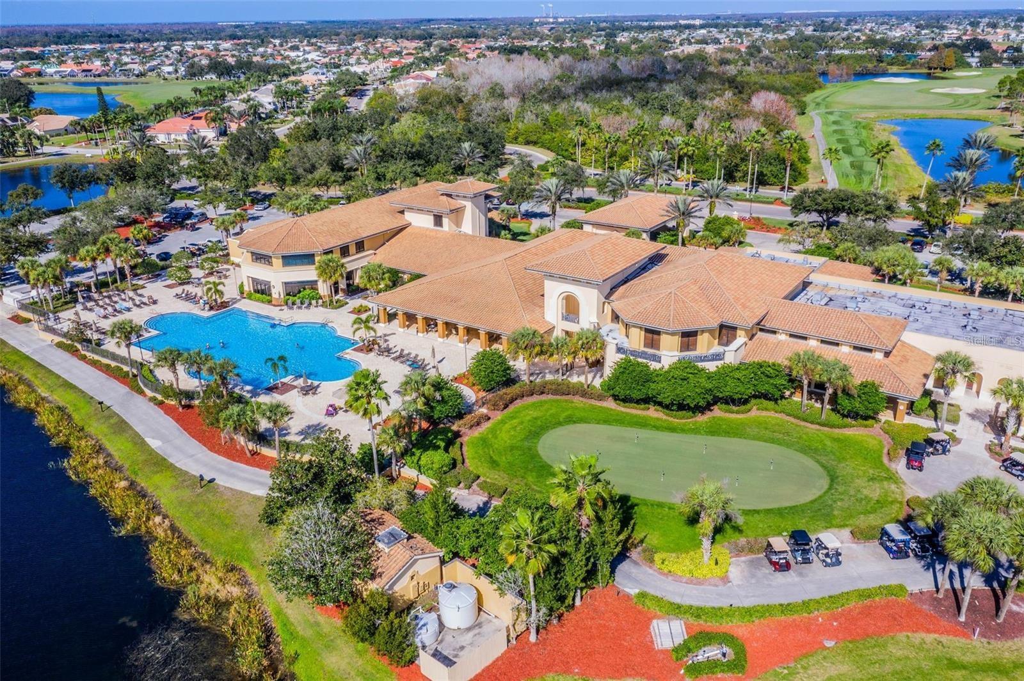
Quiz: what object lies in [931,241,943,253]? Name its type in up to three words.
vehicle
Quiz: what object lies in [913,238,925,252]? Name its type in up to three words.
vehicle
